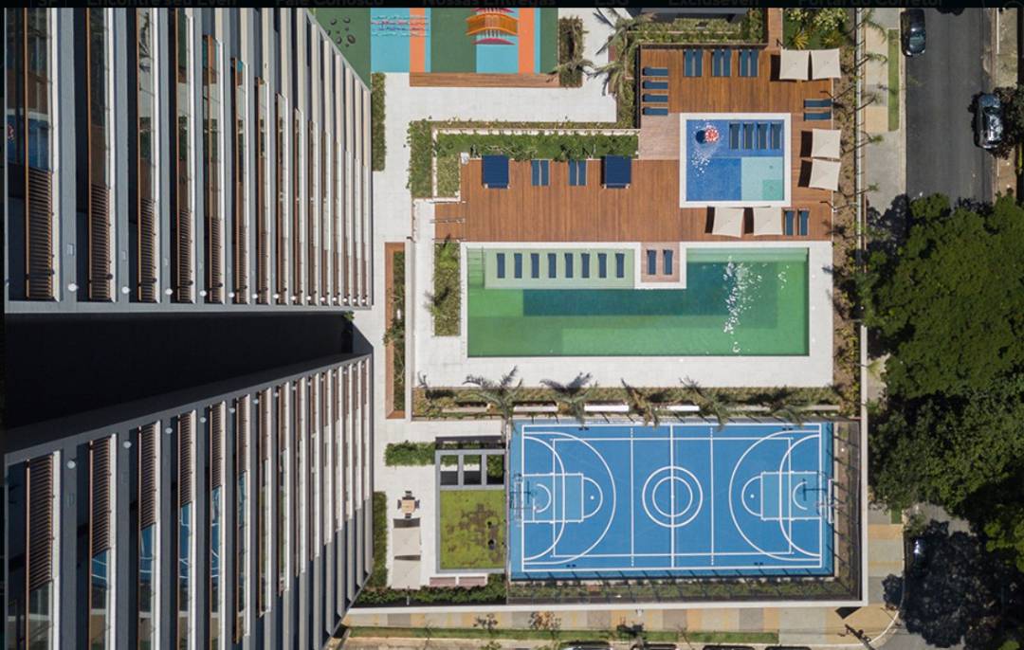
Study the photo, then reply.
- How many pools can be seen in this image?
2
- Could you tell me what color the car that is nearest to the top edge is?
black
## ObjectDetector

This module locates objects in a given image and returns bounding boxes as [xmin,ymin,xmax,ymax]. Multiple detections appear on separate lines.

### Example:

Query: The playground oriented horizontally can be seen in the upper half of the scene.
[300,0,558,91]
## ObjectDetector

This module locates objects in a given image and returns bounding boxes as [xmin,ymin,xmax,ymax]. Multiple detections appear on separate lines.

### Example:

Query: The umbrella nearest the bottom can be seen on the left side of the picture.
[392,559,421,589]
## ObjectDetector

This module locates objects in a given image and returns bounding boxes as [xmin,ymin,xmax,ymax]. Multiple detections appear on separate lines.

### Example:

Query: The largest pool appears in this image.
[462,242,815,361]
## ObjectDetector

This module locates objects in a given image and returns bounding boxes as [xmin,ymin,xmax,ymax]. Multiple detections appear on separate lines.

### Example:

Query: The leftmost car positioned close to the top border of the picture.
[899,10,927,59]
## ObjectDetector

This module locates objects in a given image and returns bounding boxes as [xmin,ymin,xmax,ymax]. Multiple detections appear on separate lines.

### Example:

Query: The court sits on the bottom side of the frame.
[510,419,834,577]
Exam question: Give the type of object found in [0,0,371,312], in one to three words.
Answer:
building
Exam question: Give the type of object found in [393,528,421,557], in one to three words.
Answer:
umbrella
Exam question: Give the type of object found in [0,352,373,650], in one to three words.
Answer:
building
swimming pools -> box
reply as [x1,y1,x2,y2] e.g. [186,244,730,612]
[462,242,815,361]
[680,113,791,206]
